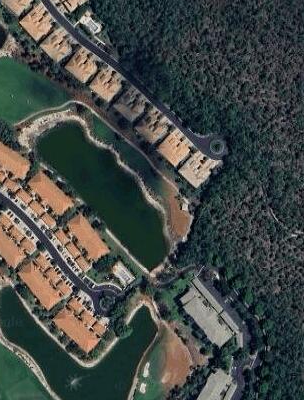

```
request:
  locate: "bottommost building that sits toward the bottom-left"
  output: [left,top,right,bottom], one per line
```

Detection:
[54,300,108,352]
